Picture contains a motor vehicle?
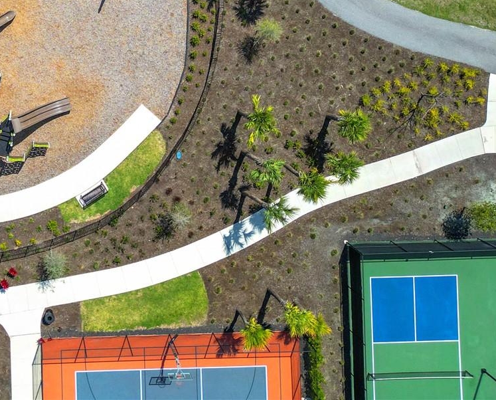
No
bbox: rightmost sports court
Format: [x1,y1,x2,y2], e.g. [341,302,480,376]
[370,274,463,400]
